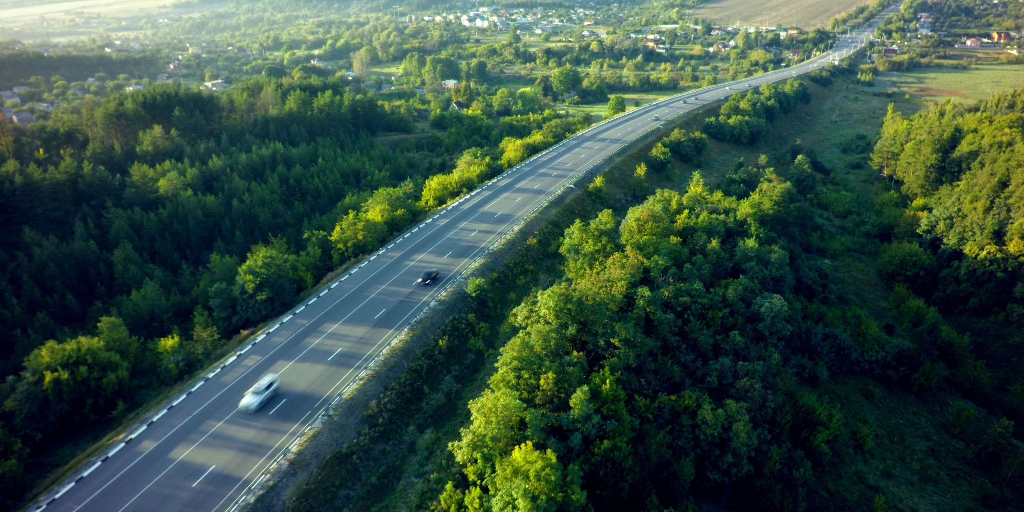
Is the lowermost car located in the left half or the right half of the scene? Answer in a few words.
left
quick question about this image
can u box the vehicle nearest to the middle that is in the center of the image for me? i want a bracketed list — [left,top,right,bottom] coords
[417,266,439,284]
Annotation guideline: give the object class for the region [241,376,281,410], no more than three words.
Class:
car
